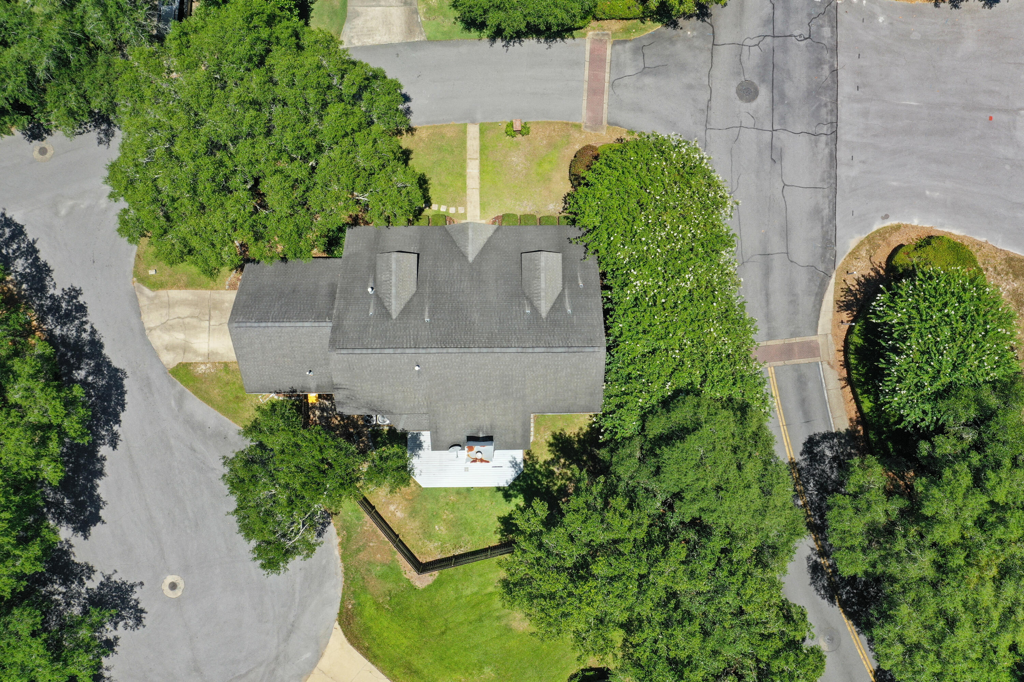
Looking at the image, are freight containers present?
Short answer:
No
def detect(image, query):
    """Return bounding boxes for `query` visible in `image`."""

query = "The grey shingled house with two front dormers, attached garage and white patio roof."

[227,220,606,488]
